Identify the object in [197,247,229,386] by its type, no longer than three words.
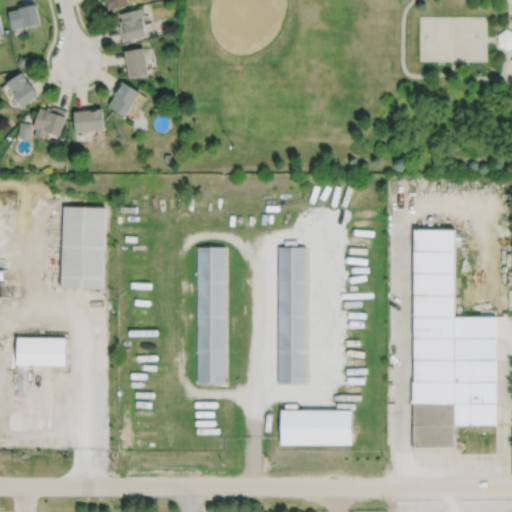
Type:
shed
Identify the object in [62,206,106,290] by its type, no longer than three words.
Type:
building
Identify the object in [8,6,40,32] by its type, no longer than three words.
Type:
house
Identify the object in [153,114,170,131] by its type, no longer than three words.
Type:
swimming pool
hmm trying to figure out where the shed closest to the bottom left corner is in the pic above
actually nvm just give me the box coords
[14,336,66,367]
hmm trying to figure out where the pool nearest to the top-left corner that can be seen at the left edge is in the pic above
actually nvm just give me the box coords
[16,140,32,156]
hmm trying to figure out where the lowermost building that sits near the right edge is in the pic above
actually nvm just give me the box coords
[414,228,498,448]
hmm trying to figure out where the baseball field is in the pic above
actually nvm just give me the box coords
[182,0,401,119]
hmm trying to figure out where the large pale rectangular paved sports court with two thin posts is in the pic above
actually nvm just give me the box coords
[420,17,488,62]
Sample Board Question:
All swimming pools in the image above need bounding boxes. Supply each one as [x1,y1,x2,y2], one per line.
[16,140,32,156]
[153,114,170,131]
